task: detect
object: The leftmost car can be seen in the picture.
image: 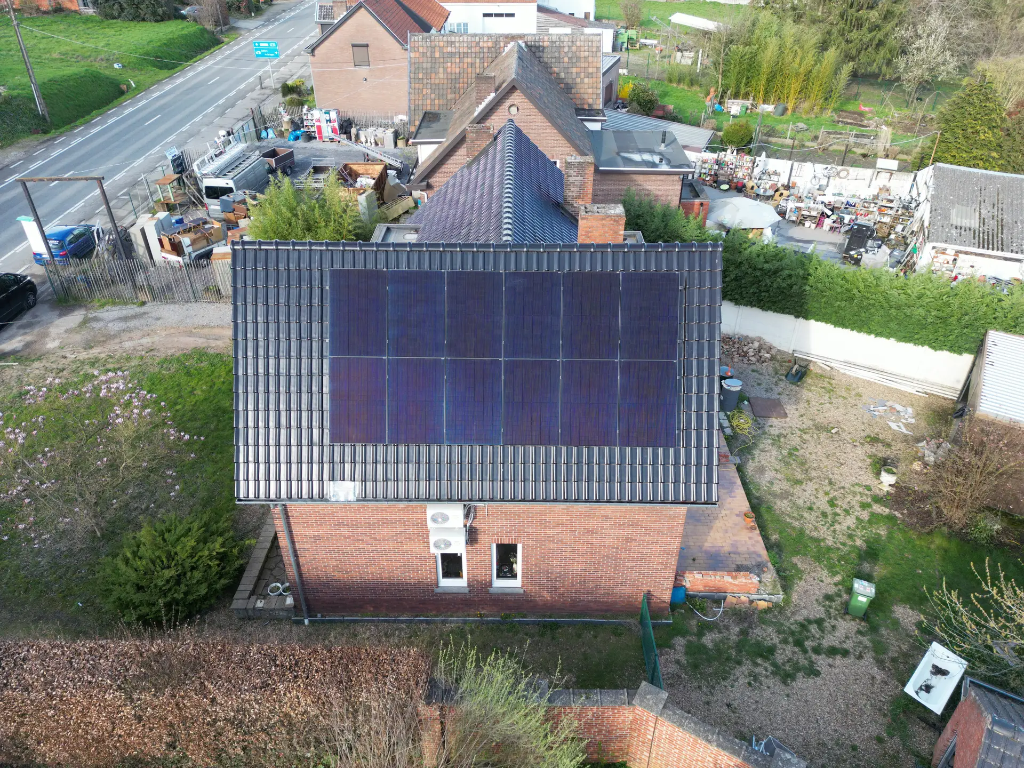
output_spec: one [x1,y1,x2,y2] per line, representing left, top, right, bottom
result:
[0,278,43,326]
